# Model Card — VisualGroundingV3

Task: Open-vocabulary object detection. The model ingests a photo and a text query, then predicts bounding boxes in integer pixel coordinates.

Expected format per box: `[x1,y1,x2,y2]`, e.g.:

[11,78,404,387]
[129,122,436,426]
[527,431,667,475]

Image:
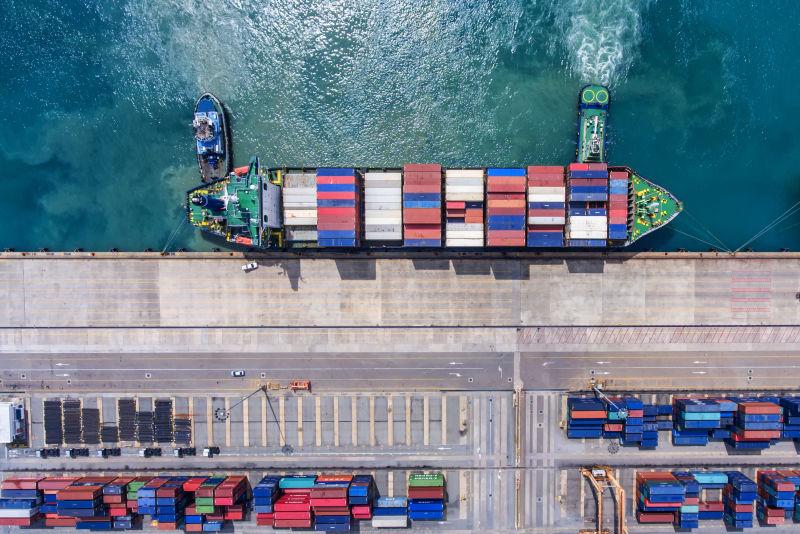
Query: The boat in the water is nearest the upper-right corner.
[574,83,610,164]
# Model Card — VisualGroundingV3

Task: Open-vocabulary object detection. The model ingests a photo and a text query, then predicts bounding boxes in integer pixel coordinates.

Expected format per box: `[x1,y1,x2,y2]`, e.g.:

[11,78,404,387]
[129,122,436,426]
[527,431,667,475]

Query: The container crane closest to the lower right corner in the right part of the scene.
[580,468,627,534]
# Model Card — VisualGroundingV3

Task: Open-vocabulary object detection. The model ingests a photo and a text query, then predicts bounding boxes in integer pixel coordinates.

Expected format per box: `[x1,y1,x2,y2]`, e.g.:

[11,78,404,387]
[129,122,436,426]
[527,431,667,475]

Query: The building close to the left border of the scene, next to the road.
[0,400,33,446]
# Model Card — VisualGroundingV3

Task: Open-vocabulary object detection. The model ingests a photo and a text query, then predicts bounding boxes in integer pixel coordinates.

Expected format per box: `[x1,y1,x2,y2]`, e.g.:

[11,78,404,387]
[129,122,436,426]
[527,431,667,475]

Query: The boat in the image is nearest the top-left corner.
[192,91,230,183]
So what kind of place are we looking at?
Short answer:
port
